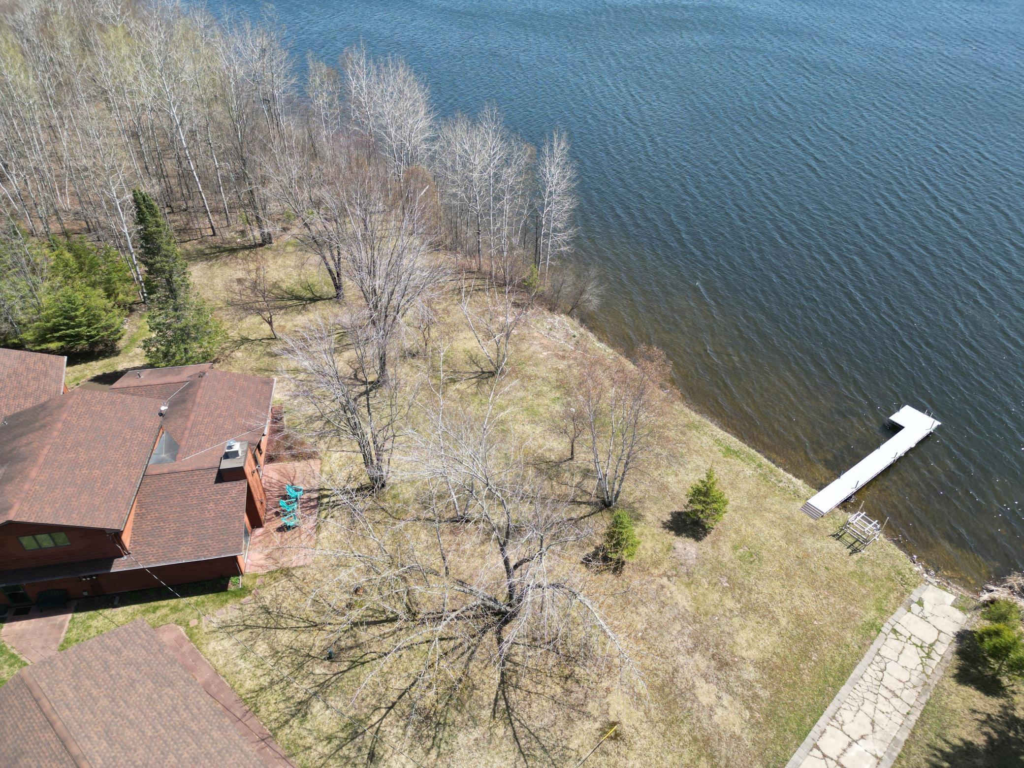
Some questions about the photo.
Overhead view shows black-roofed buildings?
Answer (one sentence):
No, the frame has no black-roofed building in it.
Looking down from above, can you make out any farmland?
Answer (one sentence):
No, there's no farmland in this view.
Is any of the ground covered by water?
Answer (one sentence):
Yes, water shows up in the scene.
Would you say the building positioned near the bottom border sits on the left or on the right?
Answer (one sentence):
The building positioned near the bottom border is on the left side of the image.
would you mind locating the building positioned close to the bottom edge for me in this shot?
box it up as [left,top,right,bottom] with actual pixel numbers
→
[0,619,268,768]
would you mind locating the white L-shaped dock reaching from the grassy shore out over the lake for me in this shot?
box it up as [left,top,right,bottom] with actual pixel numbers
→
[798,404,941,520]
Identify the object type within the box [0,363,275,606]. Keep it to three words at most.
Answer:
house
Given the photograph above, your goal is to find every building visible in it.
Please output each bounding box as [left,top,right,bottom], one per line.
[0,619,268,768]
[0,363,275,606]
